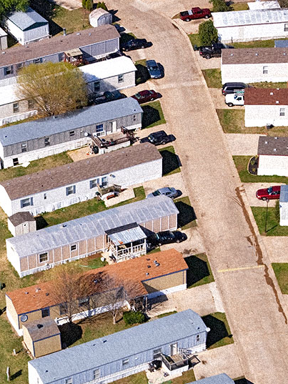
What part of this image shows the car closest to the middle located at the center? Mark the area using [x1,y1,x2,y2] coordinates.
[144,188,183,201]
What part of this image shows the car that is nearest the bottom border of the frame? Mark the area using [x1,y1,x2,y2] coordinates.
[150,231,190,250]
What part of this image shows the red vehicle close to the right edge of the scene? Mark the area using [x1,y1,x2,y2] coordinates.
[255,186,279,202]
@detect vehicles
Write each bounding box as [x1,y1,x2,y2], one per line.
[195,41,236,60]
[175,8,214,25]
[132,90,164,106]
[146,59,162,81]
[137,129,176,145]
[218,79,255,98]
[255,186,279,202]
[144,188,183,201]
[150,231,190,250]
[221,93,244,111]
[119,39,153,52]
[114,22,136,35]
